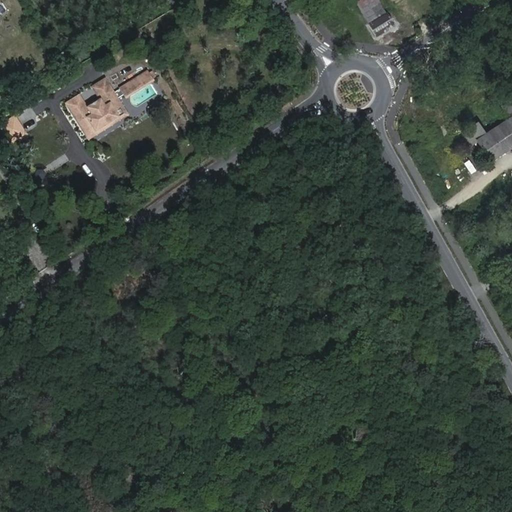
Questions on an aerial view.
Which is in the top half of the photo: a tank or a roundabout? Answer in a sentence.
It is a roundabout that can be seen in the top half of the photo.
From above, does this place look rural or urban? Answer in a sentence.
The land in this view is best described as rural.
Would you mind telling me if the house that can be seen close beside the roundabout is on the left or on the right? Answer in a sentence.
The house that can be seen close beside the roundabout sits on the right side.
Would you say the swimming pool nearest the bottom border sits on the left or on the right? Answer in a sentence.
The swimming pool nearest the bottom border is on the left side of the image.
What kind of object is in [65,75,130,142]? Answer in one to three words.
house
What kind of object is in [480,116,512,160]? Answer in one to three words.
house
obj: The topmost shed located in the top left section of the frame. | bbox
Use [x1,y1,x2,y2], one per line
[118,69,152,97]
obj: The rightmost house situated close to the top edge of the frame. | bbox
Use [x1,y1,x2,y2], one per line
[359,0,402,38]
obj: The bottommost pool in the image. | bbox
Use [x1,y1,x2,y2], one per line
[128,82,158,106]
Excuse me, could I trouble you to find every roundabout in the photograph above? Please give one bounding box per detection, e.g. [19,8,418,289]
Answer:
[319,54,392,127]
